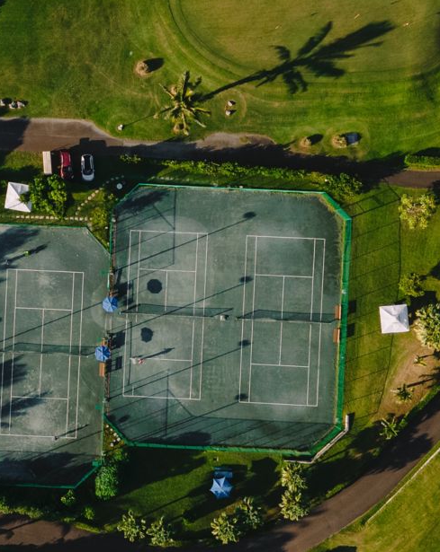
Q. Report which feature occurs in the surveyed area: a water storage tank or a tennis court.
tennis court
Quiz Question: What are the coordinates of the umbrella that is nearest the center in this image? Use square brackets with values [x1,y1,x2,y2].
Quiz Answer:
[103,296,119,312]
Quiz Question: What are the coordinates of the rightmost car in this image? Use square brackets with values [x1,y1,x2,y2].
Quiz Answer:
[80,154,96,182]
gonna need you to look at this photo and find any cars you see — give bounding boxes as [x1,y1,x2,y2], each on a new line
[59,150,74,174]
[80,154,96,182]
